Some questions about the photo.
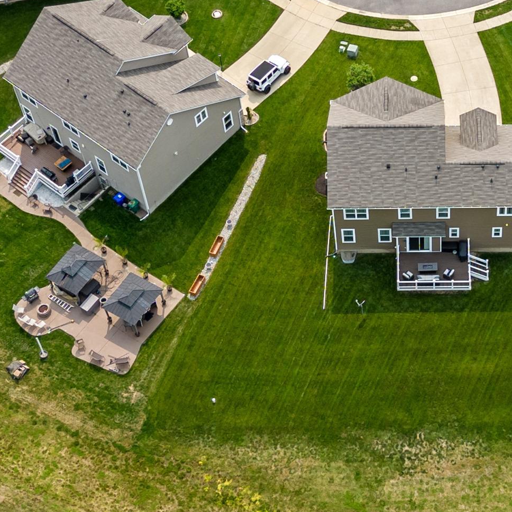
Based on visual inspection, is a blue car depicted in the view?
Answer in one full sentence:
No, the picture doesn't show any blue car.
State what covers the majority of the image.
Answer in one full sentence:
The scene is dominated by grass.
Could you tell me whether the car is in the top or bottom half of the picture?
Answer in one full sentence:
The top half of the photo is where the car is.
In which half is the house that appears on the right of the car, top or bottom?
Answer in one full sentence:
You can find the house that appears on the right of the car in the top half.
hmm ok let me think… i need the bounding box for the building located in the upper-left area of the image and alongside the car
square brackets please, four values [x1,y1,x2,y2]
[4,0,248,217]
